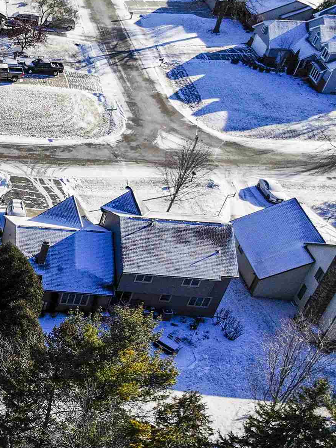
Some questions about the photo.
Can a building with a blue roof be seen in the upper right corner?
Yes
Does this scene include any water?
No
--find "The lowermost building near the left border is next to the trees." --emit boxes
[2,179,126,313]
